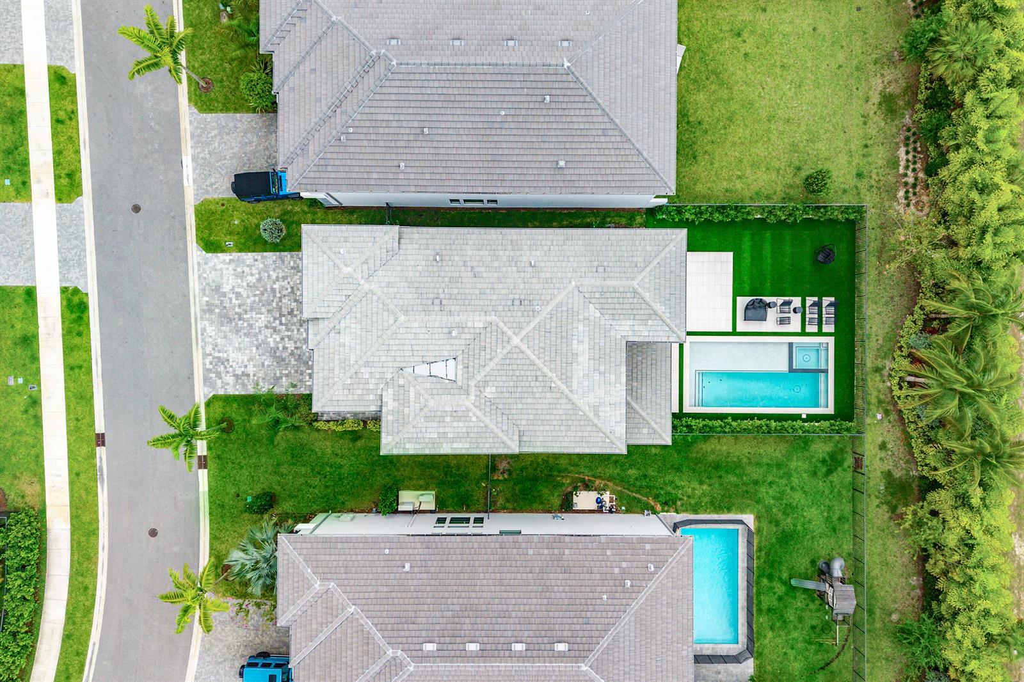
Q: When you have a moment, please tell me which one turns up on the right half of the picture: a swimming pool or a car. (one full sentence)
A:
Visible on the right half of the picture is a swimming pool.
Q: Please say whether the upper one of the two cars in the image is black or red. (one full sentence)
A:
From above, the upper one of the two cars appears black.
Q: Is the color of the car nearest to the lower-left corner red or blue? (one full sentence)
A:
From above, the car nearest to the lower-left corner appears blue.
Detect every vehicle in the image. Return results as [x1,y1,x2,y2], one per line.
[229,166,303,204]
[236,648,298,682]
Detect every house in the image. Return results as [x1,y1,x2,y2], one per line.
[275,511,695,682]
[299,222,688,457]
[257,0,678,209]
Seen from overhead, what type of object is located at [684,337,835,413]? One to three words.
swimming pool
